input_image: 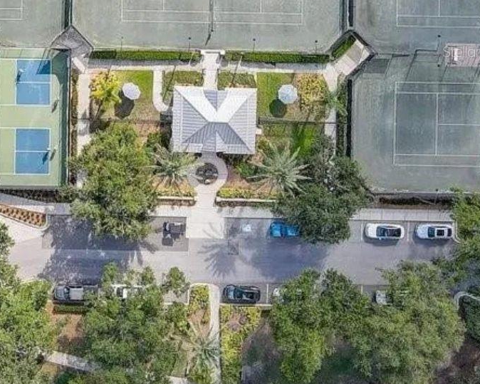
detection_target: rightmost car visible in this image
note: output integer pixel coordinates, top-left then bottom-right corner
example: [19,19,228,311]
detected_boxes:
[418,224,455,242]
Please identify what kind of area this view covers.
sports ground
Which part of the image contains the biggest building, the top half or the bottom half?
top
